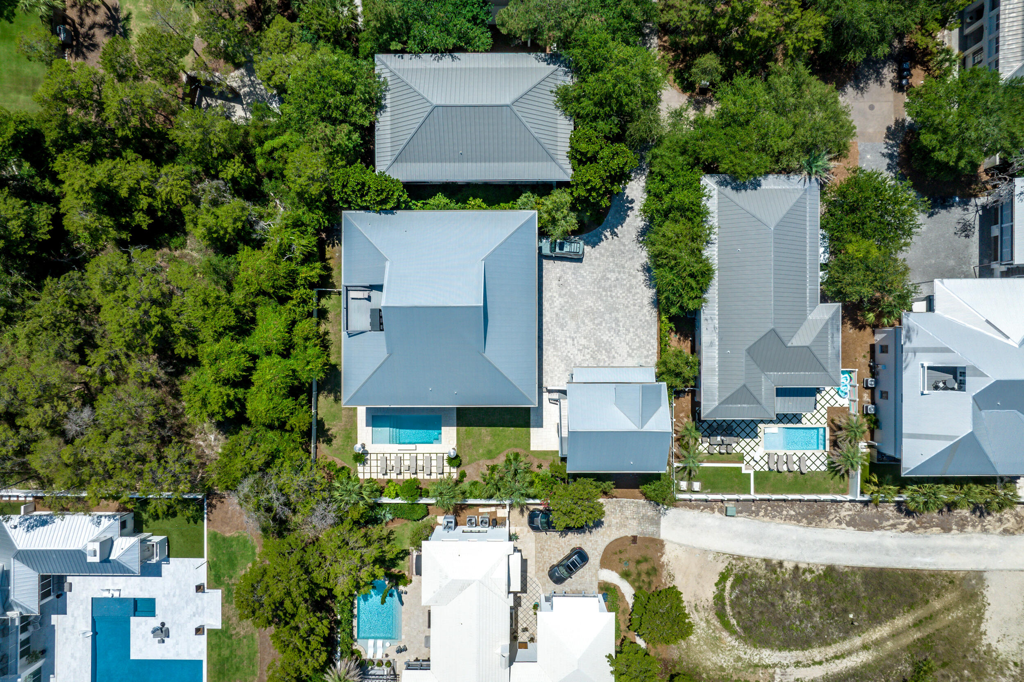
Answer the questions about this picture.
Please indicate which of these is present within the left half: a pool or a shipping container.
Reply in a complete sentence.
The feature located within the left half is a pool.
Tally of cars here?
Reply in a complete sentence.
The picture shows 3 cars.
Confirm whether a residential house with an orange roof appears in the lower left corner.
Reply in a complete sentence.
No, no residential house with an orange roof is visible in the lower left corner.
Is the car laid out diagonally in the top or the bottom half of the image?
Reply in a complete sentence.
The car laid out diagonally is in the bottom half of the image.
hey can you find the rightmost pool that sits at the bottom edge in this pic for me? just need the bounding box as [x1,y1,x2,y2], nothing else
[357,576,402,654]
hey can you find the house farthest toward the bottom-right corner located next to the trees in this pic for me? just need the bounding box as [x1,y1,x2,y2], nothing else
[873,278,1024,477]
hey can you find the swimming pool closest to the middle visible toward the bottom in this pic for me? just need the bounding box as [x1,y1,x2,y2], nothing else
[372,415,442,444]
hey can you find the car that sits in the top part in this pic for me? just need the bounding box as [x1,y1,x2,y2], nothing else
[539,237,584,258]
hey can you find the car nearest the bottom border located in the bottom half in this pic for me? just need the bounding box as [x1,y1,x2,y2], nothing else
[547,549,592,586]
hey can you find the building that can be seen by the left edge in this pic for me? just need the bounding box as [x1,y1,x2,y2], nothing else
[0,513,167,682]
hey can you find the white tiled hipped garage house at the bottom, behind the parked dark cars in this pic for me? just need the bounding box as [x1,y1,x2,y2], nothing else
[511,591,616,682]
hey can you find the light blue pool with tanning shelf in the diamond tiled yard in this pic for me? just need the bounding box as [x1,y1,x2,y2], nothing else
[764,428,826,450]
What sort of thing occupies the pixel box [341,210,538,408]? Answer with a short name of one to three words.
house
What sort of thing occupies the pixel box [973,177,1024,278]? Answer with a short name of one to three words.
house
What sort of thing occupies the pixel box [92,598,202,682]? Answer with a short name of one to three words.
swimming pool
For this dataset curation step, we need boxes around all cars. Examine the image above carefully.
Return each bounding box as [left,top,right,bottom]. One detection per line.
[547,549,592,586]
[539,237,584,258]
[531,512,578,535]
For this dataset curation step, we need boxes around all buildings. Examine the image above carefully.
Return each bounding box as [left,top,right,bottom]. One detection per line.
[511,591,616,682]
[544,365,673,474]
[341,210,538,408]
[374,52,573,191]
[973,177,1024,278]
[958,0,1024,96]
[689,173,842,420]
[402,524,521,682]
[873,278,1024,477]
[0,513,167,682]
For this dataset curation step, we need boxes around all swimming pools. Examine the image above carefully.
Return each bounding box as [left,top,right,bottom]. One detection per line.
[764,428,826,450]
[357,576,402,654]
[372,415,442,444]
[92,598,202,682]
